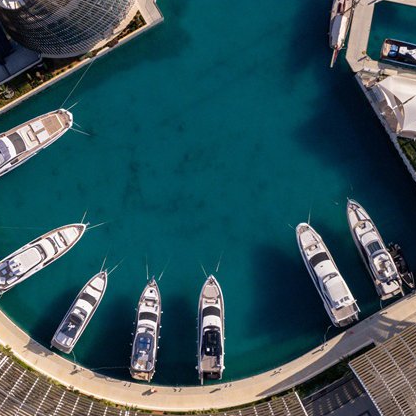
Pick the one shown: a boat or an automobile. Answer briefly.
boat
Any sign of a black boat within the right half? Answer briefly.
Yes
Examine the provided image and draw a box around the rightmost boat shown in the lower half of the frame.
[384,241,415,287]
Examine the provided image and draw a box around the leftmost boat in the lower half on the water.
[0,224,85,297]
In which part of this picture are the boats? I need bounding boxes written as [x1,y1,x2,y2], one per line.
[290,210,357,341]
[96,274,161,383]
[384,241,415,287]
[53,259,118,355]
[196,265,224,385]
[378,43,416,69]
[0,224,85,297]
[329,0,355,66]
[0,55,99,180]
[336,189,404,307]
